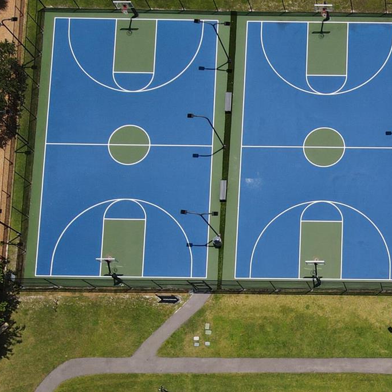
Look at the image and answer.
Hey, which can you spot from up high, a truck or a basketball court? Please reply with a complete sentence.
The image shows a basketball court.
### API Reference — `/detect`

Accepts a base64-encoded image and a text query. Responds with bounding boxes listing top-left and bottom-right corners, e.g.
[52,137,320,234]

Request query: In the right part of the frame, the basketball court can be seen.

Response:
[222,13,392,291]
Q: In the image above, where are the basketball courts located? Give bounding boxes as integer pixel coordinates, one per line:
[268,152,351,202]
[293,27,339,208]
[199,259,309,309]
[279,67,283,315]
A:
[222,13,392,291]
[23,10,230,287]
